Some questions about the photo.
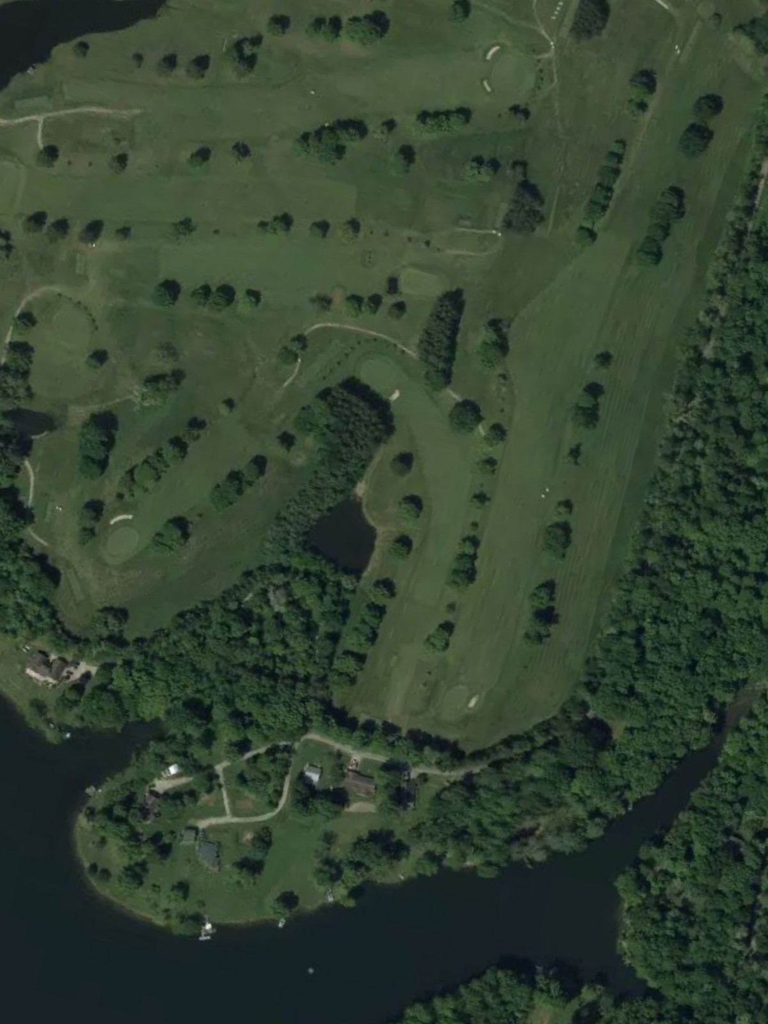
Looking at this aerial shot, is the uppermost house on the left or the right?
left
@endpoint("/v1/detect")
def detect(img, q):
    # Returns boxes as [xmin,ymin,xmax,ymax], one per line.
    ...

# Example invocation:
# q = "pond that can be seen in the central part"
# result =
[304,500,372,573]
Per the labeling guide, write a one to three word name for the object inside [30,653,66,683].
house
